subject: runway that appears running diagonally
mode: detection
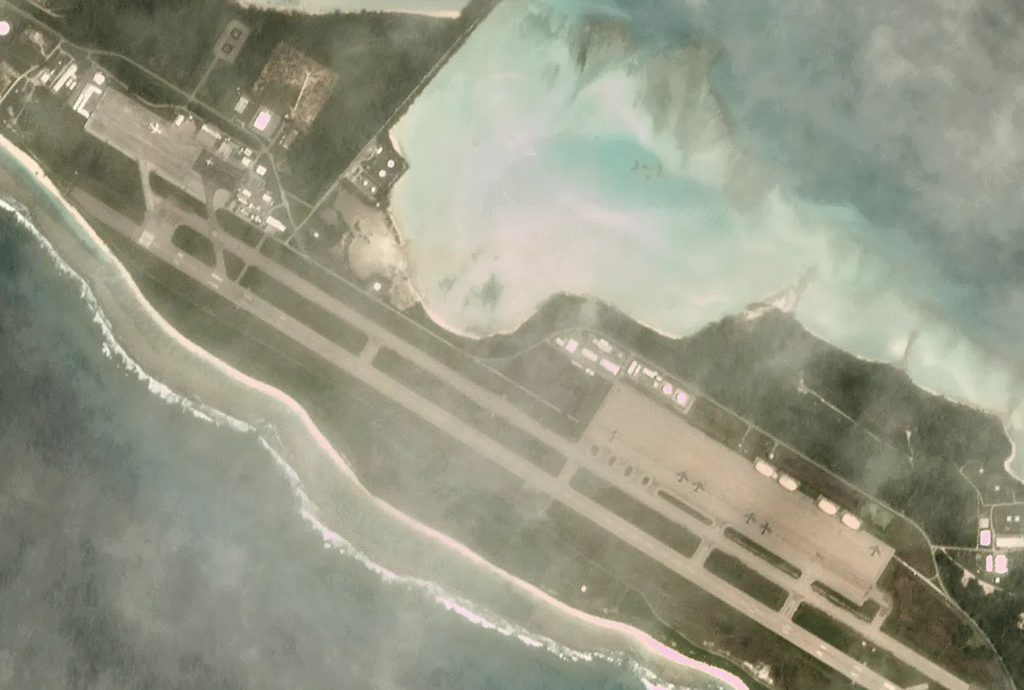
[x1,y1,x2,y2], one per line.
[140,231,902,690]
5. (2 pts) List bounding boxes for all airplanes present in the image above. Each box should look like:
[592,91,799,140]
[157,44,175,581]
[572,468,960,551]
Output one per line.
[693,482,702,492]
[149,122,160,132]
[677,473,687,483]
[759,524,769,534]
[869,546,879,556]
[744,514,754,523]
